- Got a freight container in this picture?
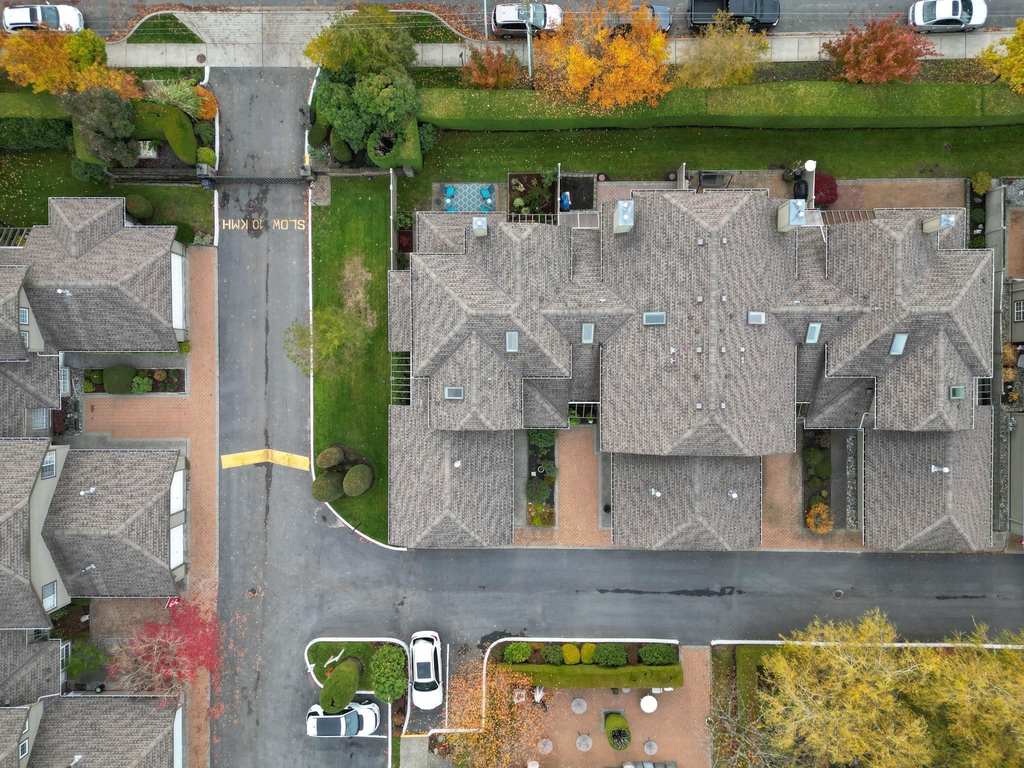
No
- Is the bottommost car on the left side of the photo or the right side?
left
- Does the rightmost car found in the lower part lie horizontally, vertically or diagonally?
vertically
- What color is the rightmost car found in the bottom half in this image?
white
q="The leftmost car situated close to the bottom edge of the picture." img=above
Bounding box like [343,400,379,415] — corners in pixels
[308,697,381,742]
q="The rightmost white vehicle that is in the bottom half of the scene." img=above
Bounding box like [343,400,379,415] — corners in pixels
[407,631,445,708]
